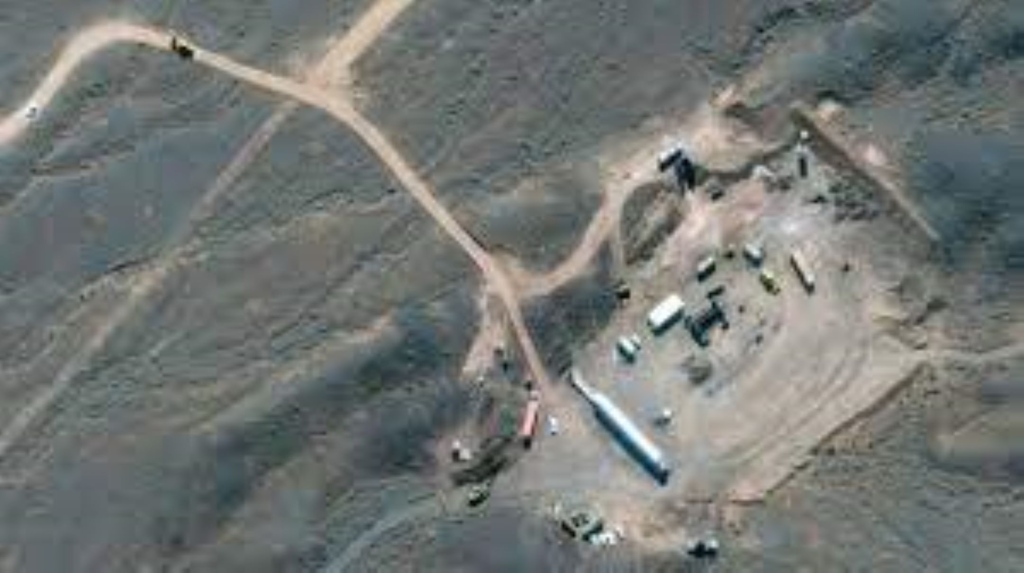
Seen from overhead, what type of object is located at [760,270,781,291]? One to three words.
work vehicle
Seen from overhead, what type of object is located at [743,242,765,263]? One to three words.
truck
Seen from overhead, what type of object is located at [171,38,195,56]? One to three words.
vehicle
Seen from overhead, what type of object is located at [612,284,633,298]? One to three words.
vehicle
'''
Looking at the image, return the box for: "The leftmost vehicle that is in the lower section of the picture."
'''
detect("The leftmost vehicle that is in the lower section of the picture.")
[465,486,486,503]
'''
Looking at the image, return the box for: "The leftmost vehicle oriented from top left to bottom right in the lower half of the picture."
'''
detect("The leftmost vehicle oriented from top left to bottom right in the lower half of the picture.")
[616,336,636,358]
